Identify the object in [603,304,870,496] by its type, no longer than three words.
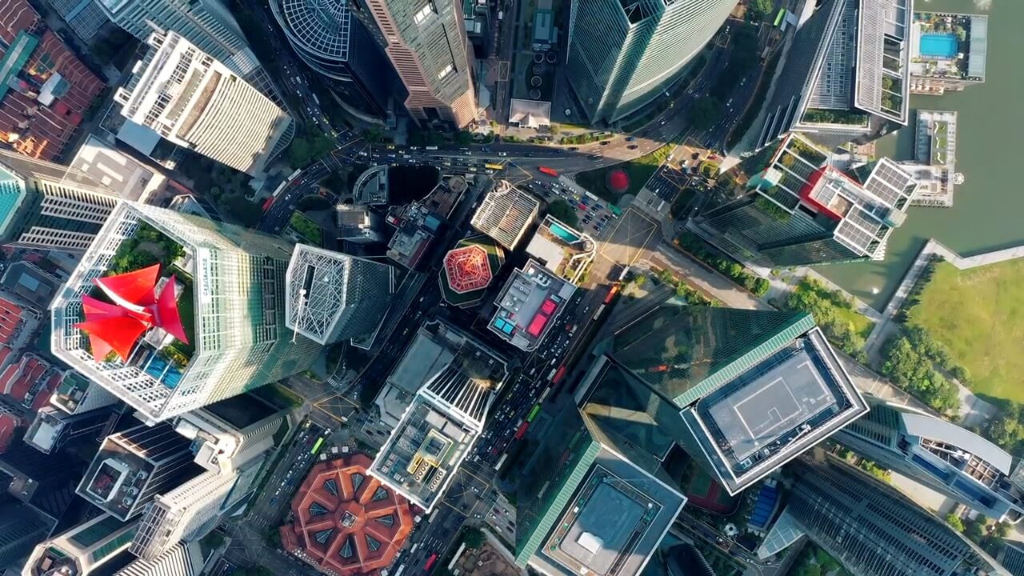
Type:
building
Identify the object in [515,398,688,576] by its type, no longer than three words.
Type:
building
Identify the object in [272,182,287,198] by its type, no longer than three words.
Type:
vehicle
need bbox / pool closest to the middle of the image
[550,224,578,244]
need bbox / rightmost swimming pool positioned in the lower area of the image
[953,477,997,509]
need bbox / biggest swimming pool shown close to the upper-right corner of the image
[920,34,959,56]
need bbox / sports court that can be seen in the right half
[669,447,740,514]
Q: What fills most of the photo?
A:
buildings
